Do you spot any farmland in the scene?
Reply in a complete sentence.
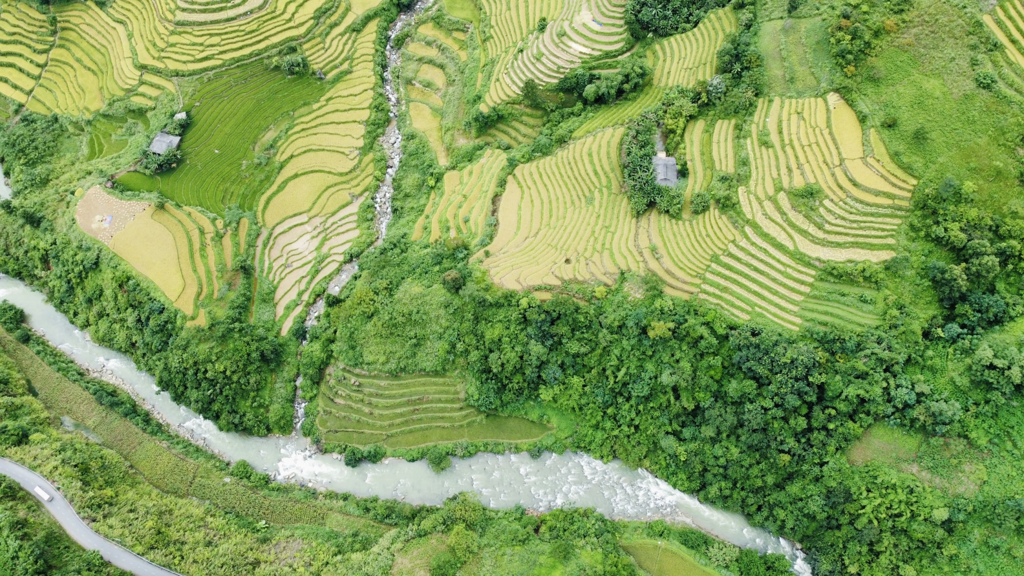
Yes, there's farmland in this view.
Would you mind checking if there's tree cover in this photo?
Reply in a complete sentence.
Yes, some tree cover is visible.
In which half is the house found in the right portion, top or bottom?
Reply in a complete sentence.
The house found in the right portion is in the top half of the image.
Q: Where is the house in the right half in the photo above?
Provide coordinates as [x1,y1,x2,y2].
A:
[654,158,681,184]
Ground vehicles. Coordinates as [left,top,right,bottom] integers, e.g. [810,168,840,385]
[33,486,52,504]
